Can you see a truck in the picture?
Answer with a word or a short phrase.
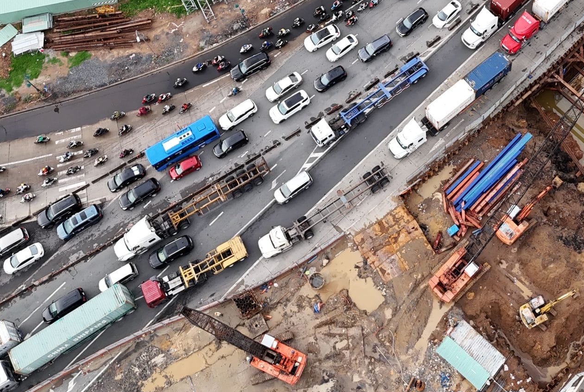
Yes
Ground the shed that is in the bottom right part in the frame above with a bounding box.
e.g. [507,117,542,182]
[430,320,506,390]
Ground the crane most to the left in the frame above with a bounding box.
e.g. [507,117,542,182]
[179,305,319,392]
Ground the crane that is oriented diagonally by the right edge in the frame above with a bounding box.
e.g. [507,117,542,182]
[426,94,584,312]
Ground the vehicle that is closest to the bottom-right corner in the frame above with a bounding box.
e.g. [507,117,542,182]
[511,288,581,333]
